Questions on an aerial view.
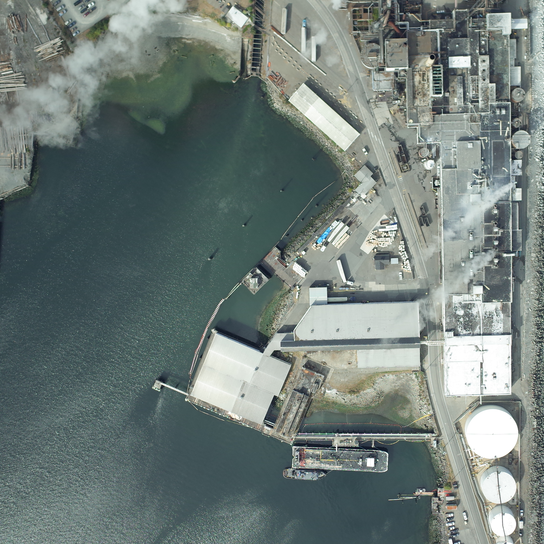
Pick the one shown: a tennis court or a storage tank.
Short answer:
storage tank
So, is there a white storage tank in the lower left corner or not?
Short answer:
No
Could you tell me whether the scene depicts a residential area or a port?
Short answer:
port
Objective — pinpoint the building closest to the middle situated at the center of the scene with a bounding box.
[241,267,271,294]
